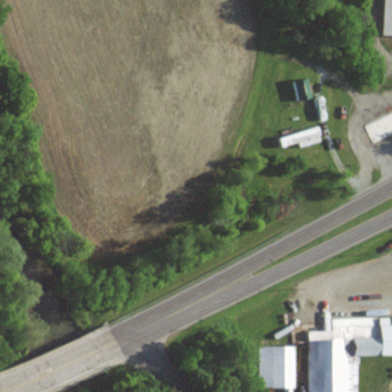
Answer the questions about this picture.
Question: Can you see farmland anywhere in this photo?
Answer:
Yes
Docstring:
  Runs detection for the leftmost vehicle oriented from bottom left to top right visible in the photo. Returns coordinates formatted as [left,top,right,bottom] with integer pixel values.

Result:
[274,321,300,339]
